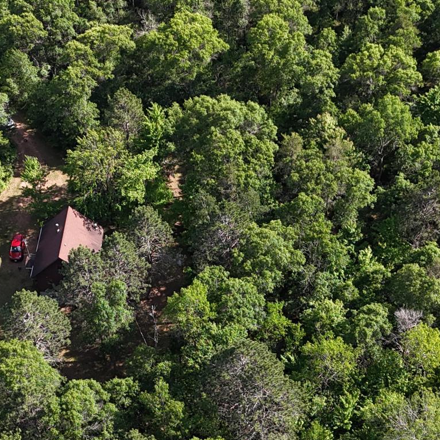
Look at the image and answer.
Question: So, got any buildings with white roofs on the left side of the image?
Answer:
No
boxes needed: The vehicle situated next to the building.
[8,235,25,261]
